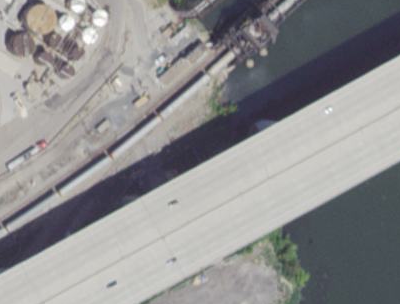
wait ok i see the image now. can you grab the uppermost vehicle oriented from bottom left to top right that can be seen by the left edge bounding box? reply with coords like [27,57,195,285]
[6,144,46,170]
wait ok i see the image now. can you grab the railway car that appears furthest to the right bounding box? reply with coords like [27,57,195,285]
[274,0,298,17]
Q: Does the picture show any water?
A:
Yes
